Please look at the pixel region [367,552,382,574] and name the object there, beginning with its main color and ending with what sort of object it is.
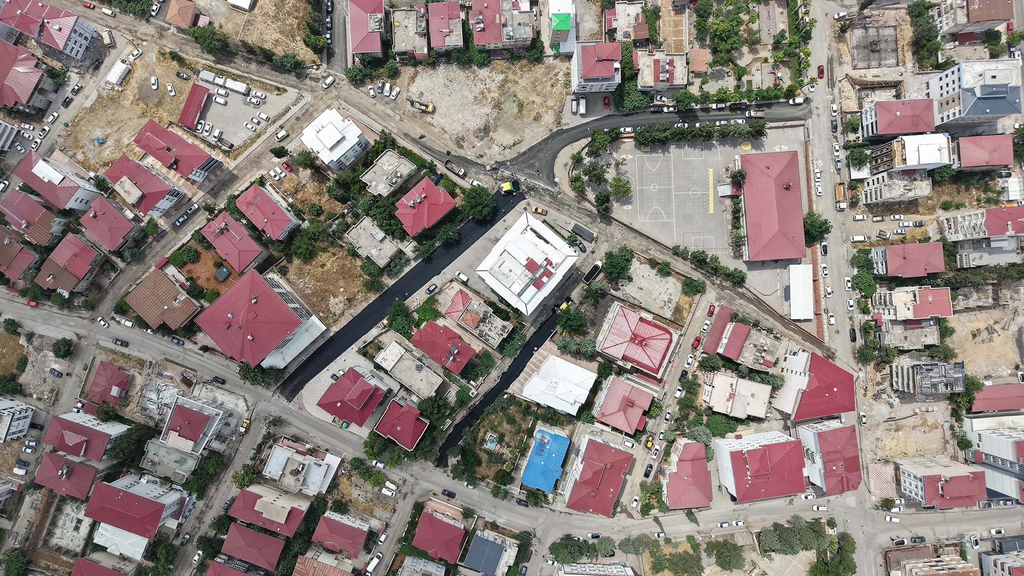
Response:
white vehicle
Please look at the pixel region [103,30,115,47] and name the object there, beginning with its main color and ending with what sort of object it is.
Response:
white vehicle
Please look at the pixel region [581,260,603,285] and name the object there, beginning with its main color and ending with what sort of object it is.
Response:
black truck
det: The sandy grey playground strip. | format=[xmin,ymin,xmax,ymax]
[759,0,788,45]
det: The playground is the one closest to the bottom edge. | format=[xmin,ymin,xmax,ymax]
[761,61,791,88]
